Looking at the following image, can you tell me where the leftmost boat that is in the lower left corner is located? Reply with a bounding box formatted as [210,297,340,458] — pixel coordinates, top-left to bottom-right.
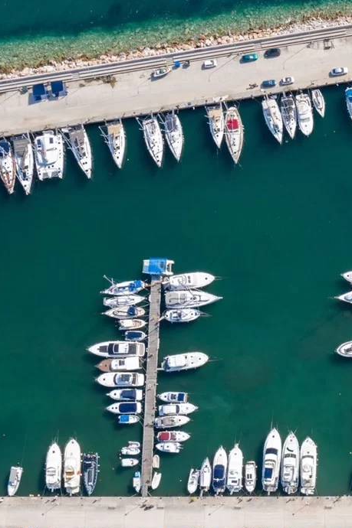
[8,467,23,496]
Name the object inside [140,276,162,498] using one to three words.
pier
